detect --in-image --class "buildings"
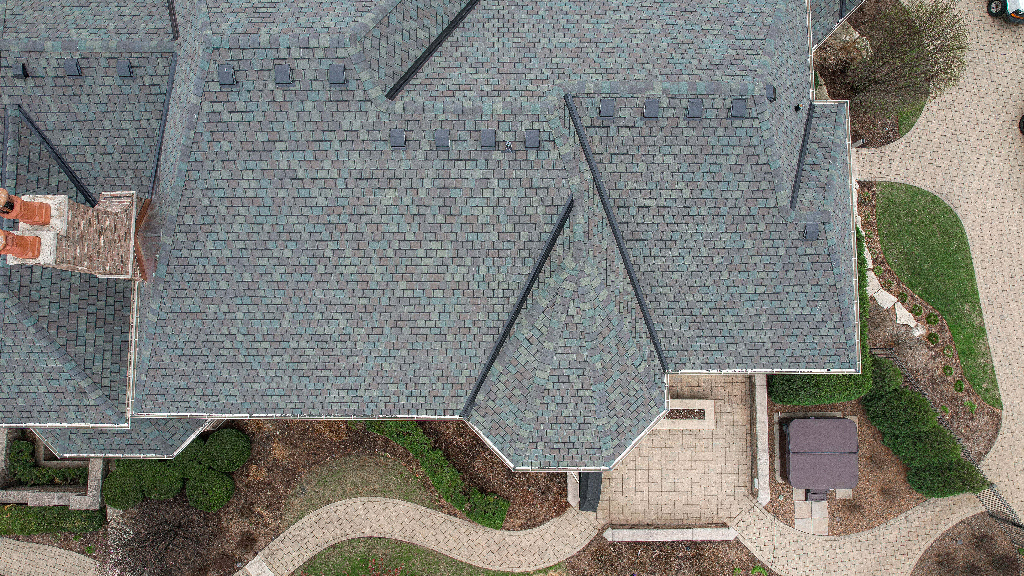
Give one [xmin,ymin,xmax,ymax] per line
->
[0,0,871,486]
